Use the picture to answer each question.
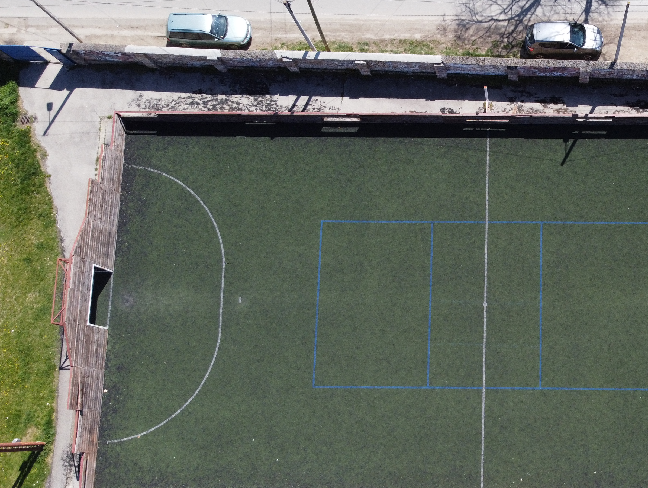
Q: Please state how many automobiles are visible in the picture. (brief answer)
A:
2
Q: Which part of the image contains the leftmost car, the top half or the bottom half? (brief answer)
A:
top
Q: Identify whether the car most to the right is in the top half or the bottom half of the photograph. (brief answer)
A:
top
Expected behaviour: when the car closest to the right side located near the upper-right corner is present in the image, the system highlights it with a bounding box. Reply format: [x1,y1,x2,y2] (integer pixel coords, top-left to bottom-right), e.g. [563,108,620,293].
[526,19,600,60]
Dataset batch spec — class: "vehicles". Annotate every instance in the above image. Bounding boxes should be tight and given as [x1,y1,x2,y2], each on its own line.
[162,8,250,49]
[526,19,600,60]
